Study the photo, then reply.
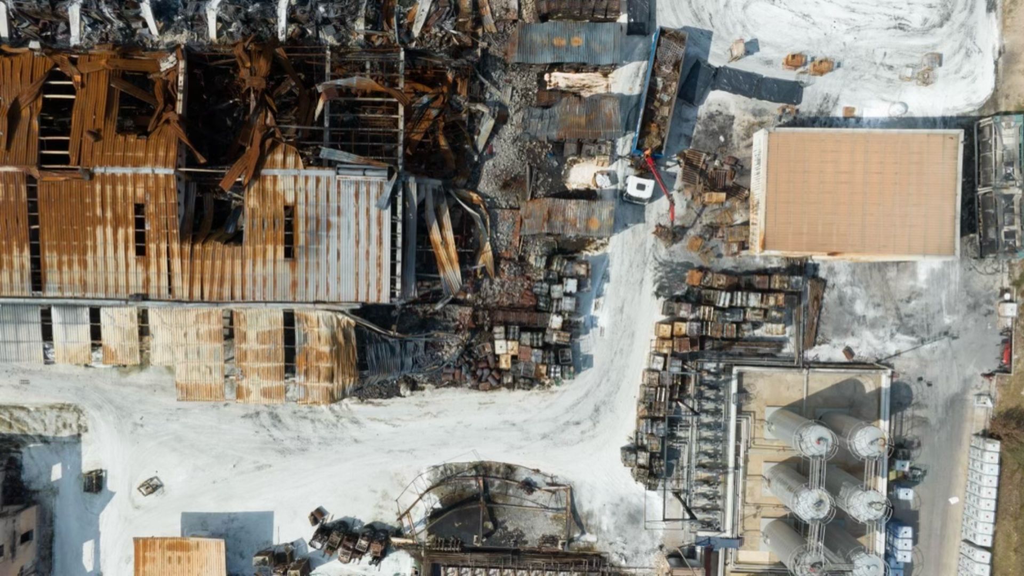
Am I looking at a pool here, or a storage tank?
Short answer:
storage tank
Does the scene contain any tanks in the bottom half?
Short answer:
Yes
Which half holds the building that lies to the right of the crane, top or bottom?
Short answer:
top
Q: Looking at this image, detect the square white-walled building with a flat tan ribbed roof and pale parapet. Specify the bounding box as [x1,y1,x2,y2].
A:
[745,129,968,262]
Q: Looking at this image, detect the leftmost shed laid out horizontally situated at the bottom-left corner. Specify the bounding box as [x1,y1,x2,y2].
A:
[133,537,225,576]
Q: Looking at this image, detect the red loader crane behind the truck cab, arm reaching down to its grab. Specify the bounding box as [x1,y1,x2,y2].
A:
[638,147,679,230]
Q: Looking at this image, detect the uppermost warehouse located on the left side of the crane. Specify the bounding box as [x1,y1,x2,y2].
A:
[0,0,516,404]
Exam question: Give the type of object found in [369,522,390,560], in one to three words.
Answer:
work vehicle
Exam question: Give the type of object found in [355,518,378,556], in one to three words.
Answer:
work vehicle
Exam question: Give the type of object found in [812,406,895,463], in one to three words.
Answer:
storage tank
